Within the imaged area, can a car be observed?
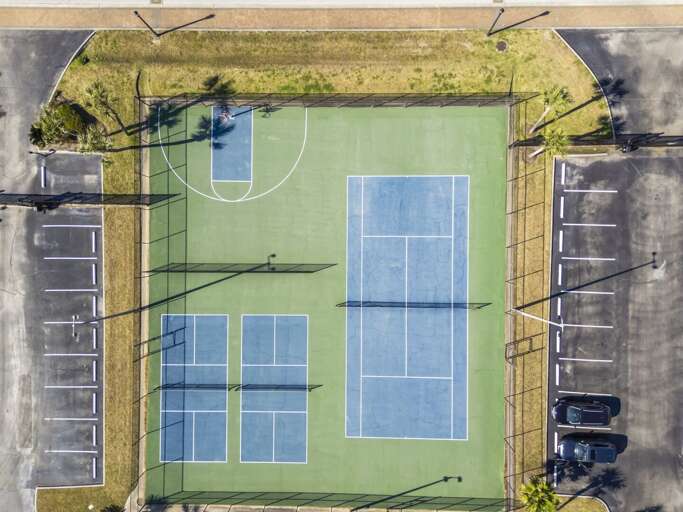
Yes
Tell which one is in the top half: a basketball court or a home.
basketball court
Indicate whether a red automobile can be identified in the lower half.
No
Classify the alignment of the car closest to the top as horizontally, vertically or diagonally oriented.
horizontally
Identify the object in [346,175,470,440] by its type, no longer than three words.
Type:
tennis court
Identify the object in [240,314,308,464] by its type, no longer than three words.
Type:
sports court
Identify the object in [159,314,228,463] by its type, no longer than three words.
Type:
sports court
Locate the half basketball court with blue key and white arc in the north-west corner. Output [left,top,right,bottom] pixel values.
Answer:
[159,107,306,202]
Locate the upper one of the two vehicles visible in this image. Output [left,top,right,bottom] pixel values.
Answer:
[553,402,612,430]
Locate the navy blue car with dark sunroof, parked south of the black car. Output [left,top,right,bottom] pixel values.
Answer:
[559,439,618,468]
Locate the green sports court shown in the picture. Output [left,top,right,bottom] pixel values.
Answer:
[145,105,506,509]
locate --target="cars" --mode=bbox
[553,402,612,430]
[559,439,618,468]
